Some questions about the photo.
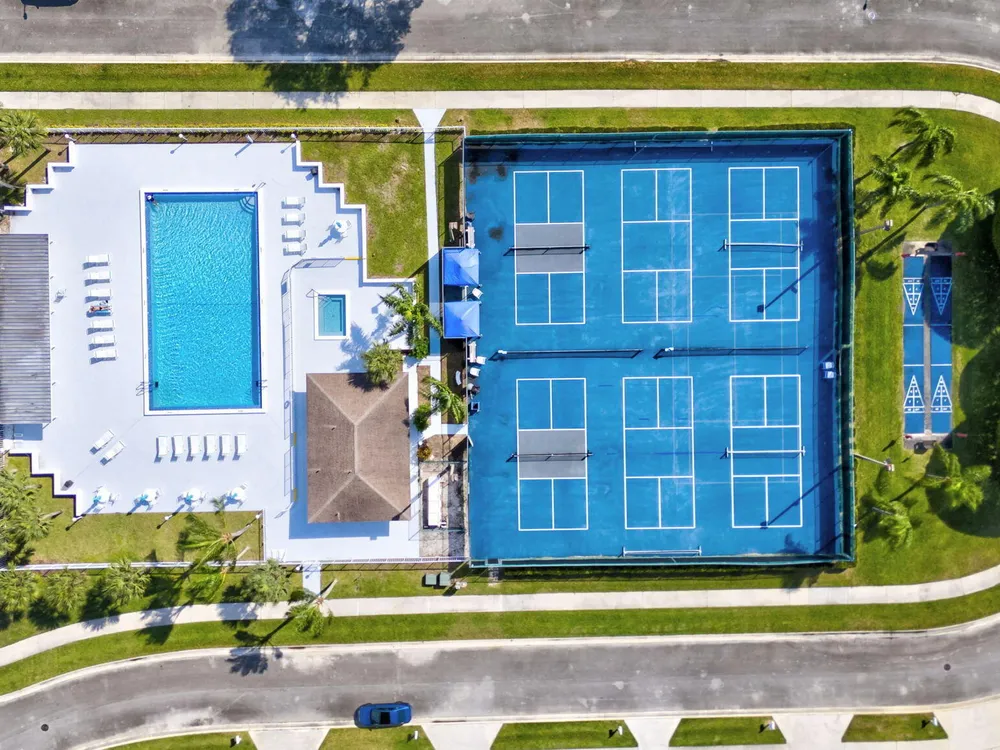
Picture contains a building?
Yes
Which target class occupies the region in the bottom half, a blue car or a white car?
blue car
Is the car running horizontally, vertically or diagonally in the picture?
horizontally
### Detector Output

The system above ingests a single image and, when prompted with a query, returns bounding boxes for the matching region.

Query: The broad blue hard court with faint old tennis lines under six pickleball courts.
[446,138,841,558]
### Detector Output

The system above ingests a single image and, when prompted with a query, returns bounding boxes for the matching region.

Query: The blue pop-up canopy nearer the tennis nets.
[444,302,481,340]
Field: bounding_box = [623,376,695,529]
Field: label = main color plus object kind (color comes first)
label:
blue sports court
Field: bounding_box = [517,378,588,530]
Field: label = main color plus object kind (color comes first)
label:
blue sports court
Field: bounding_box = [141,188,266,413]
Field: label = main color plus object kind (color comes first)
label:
blue swimming pool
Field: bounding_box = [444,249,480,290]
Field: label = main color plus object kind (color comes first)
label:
blue tent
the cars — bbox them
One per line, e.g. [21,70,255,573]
[356,700,411,729]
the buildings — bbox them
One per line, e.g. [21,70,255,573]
[306,372,411,523]
[0,229,58,423]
